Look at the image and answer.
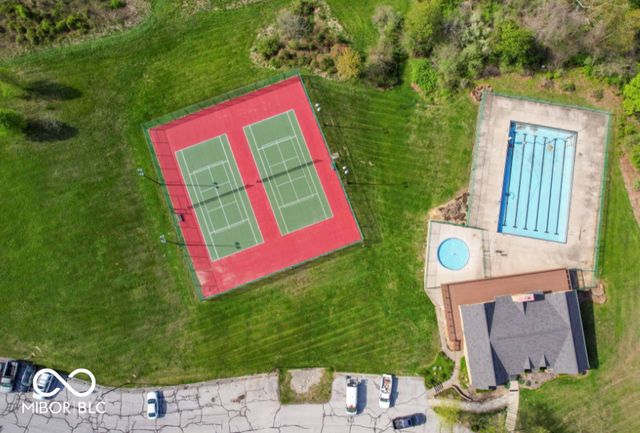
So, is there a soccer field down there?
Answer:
No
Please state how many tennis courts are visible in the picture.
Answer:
2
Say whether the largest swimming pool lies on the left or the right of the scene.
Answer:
right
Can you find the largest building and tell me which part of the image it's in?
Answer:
bottom right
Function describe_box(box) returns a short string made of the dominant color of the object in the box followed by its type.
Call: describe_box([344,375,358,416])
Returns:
white vehicle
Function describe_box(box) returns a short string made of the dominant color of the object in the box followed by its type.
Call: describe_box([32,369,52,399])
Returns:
white vehicle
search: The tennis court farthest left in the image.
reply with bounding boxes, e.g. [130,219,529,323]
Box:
[149,100,287,296]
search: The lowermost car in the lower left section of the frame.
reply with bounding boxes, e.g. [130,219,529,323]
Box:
[146,391,159,419]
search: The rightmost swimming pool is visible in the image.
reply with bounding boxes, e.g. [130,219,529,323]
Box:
[495,119,579,245]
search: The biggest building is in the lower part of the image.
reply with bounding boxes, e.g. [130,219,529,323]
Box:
[458,289,591,389]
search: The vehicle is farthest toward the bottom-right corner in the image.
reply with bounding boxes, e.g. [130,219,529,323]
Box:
[392,411,428,432]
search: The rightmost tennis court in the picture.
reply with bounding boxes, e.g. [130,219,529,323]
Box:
[228,75,361,266]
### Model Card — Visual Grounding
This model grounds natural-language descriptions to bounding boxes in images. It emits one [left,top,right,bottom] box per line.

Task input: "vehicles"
[146,391,159,419]
[32,369,52,399]
[18,365,36,392]
[376,373,394,409]
[1,359,21,393]
[392,411,428,432]
[344,375,358,416]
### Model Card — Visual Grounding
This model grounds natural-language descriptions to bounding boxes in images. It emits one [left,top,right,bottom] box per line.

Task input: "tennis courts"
[149,100,287,296]
[228,75,361,266]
